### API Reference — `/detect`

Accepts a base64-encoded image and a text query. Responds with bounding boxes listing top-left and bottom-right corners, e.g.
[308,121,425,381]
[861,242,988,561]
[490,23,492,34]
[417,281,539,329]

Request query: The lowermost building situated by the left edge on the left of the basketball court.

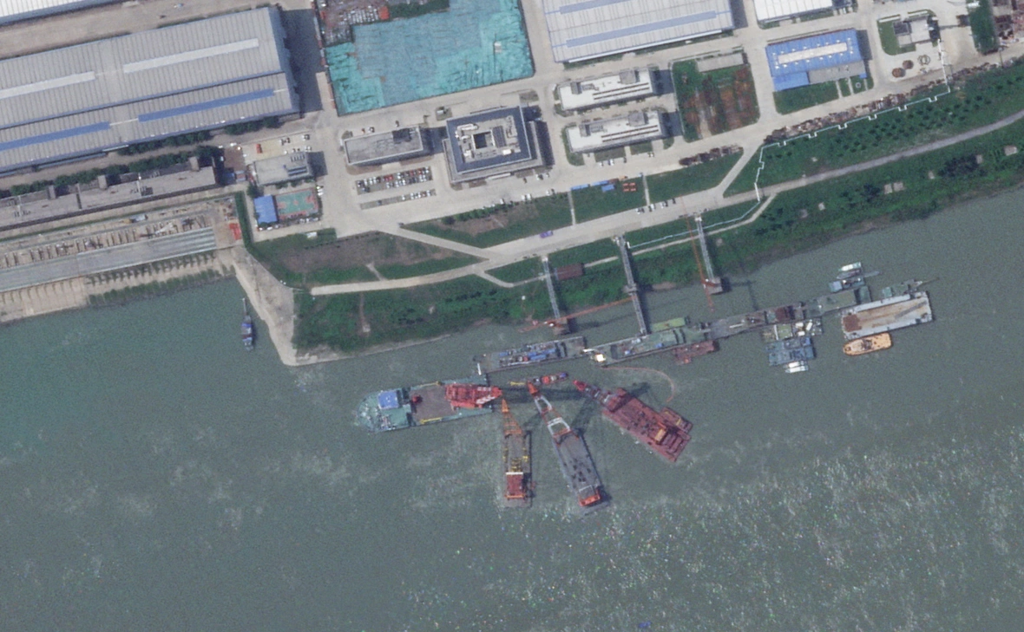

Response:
[0,156,224,231]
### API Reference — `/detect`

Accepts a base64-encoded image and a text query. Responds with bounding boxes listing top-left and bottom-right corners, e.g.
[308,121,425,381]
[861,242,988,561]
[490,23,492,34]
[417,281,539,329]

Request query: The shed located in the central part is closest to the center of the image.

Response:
[555,263,586,280]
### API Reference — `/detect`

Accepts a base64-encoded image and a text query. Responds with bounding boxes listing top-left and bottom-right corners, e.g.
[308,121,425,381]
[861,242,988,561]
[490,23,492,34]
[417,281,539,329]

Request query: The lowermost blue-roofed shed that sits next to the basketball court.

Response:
[254,195,281,226]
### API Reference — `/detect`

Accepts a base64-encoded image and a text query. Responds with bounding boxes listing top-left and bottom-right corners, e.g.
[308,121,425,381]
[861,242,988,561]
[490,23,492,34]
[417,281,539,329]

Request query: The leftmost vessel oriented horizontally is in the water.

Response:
[357,374,502,432]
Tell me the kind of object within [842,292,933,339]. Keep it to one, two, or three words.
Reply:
ship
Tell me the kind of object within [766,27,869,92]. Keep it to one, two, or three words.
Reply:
building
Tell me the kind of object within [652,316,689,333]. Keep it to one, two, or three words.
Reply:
pier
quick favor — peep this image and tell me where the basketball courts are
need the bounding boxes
[277,187,318,219]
